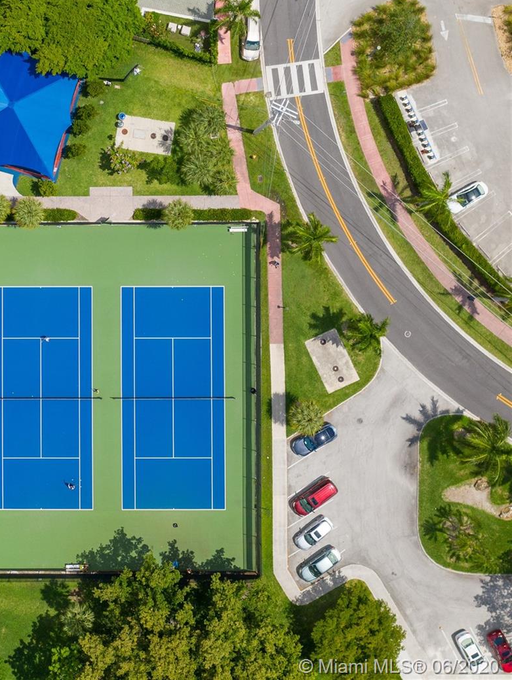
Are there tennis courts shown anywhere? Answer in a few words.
Yes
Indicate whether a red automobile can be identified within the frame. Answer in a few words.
Yes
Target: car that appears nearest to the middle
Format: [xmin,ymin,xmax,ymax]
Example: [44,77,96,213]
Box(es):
[290,425,339,458]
